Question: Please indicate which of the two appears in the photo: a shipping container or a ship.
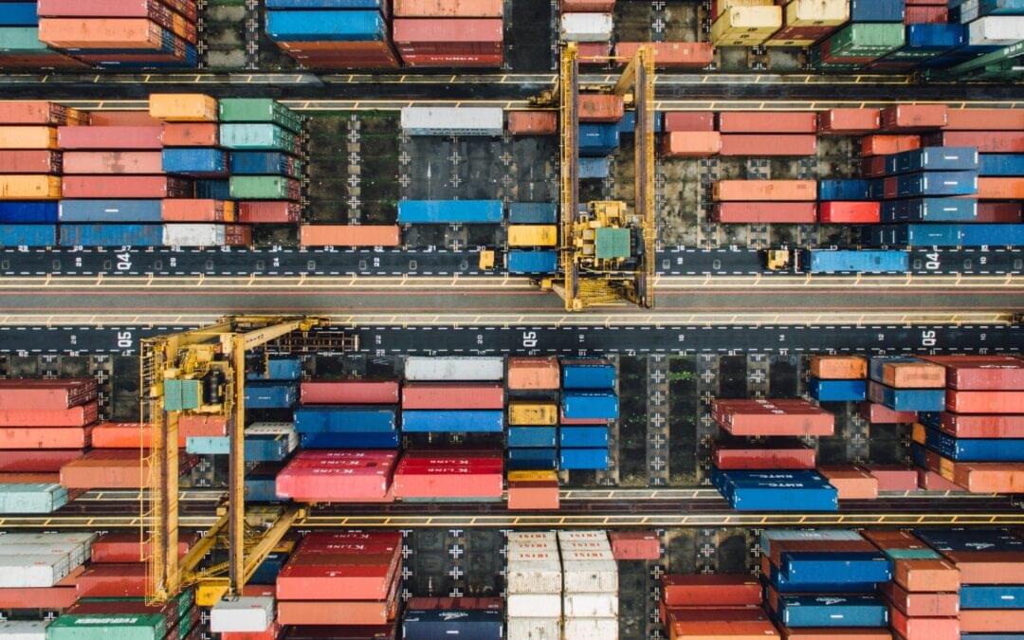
shipping container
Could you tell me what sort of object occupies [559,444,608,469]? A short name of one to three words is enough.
shipping container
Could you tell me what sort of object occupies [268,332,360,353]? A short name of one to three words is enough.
trailer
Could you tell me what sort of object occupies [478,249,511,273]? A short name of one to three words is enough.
truck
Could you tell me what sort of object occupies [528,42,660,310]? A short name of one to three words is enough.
container crane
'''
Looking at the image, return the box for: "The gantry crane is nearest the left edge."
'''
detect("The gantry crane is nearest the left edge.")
[141,311,329,608]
